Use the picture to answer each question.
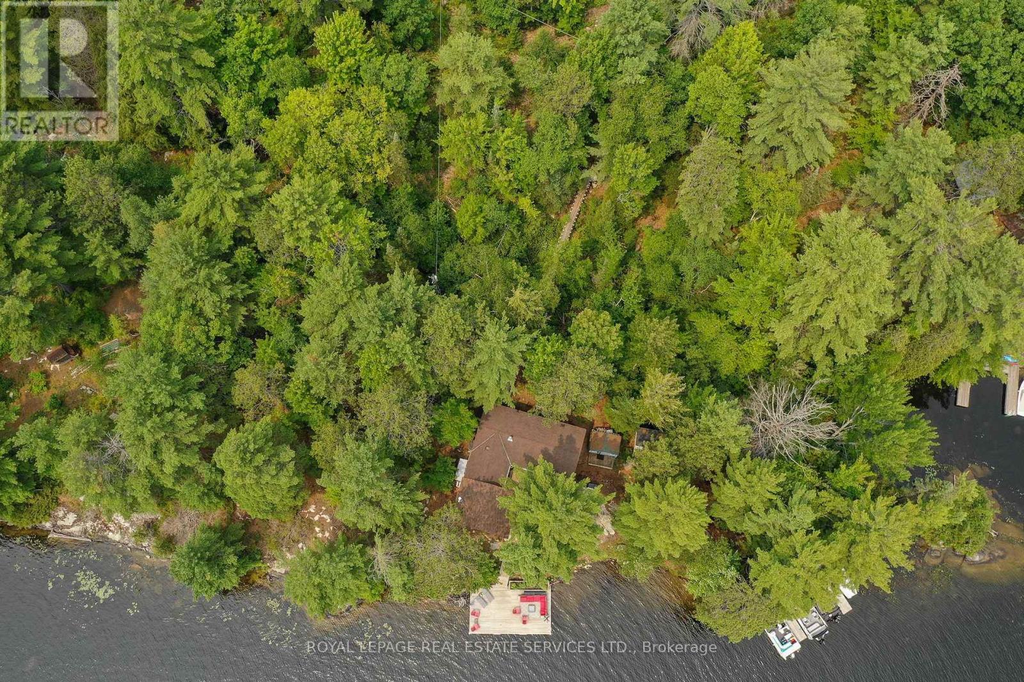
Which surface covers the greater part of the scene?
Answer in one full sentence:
The largest share of the image is taken up by trees.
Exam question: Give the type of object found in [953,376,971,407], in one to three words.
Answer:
pier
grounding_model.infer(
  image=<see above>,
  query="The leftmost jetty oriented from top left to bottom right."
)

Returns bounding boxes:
[775,601,808,642]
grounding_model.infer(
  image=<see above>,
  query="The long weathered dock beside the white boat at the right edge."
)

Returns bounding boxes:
[1001,366,1019,415]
